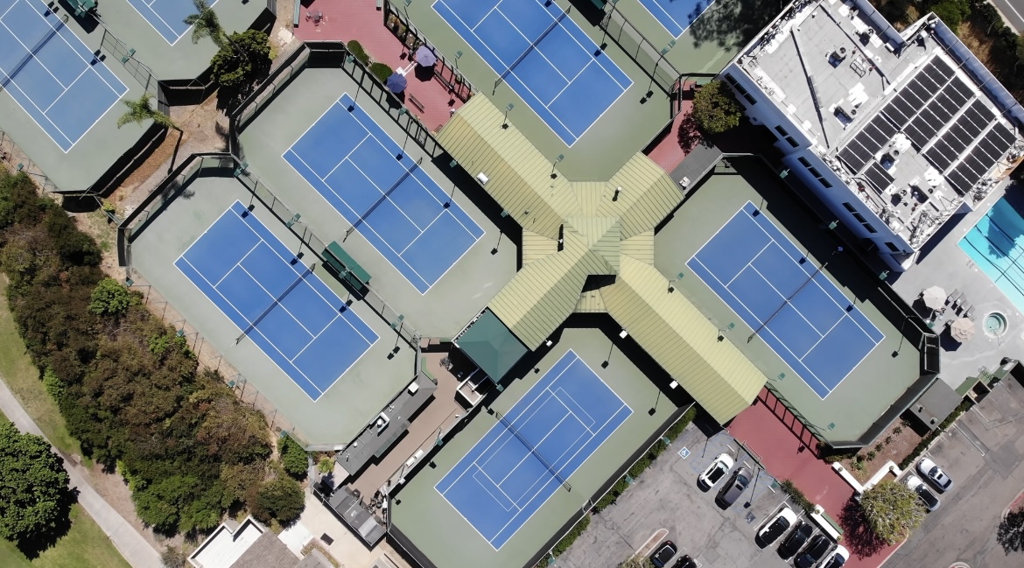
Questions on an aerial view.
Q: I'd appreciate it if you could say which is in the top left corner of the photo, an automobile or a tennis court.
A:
tennis court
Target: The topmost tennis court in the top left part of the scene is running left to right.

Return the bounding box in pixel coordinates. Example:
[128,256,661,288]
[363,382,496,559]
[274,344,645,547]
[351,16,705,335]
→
[85,0,275,87]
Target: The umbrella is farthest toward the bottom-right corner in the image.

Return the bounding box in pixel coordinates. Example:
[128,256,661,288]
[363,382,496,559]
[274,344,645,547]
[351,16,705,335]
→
[949,317,972,340]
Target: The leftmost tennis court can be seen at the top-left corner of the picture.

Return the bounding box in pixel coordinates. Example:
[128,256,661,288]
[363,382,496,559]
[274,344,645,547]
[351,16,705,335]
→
[0,0,169,193]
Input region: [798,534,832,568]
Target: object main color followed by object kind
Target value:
black car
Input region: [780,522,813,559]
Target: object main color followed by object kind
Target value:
black car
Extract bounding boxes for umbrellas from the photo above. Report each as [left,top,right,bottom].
[921,286,945,309]
[416,47,437,68]
[387,74,407,94]
[949,317,972,340]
